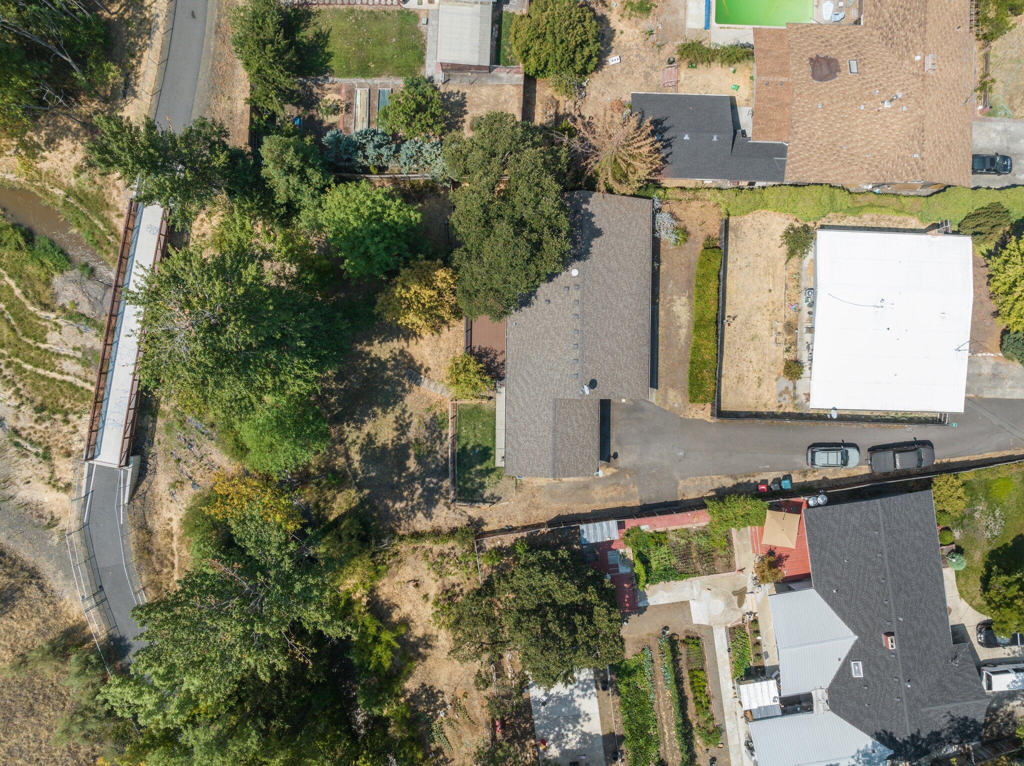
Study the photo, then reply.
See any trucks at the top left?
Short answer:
No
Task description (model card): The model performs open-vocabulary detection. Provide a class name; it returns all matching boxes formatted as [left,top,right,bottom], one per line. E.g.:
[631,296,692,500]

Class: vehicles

[973,621,1021,648]
[805,444,860,470]
[978,663,1024,695]
[971,150,1011,177]
[865,444,936,473]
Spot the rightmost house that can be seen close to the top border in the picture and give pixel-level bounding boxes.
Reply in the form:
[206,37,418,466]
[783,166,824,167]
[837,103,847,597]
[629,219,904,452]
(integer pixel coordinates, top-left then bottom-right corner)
[745,0,975,191]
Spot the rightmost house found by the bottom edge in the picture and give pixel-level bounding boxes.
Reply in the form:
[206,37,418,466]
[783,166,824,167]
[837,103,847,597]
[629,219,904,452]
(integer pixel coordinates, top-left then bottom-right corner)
[798,489,989,766]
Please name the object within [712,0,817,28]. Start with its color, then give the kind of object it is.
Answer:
green swimming pool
